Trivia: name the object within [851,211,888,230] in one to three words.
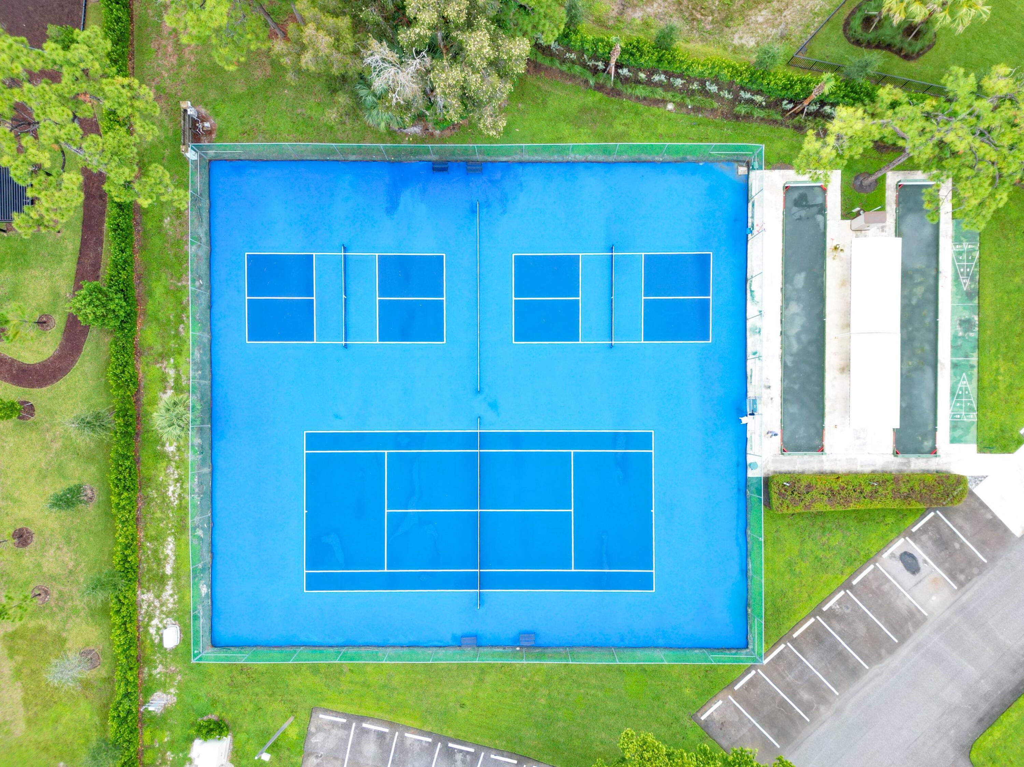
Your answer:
shed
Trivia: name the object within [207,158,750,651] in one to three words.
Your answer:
sports court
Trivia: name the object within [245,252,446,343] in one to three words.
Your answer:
sports court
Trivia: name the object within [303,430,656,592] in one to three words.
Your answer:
tennis court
